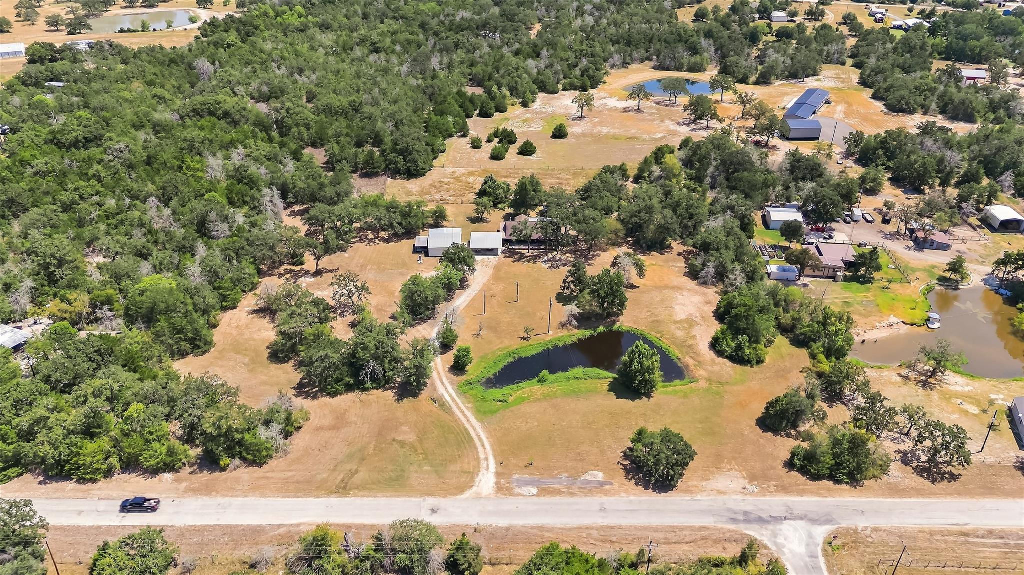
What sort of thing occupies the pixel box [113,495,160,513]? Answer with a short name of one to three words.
vehicle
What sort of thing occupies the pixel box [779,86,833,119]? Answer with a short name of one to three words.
house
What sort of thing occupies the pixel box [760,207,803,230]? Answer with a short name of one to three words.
shed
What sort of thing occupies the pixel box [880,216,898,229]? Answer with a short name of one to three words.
vehicle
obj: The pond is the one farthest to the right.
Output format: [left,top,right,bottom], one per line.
[851,286,1024,378]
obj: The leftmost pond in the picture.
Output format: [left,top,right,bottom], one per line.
[86,10,193,33]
